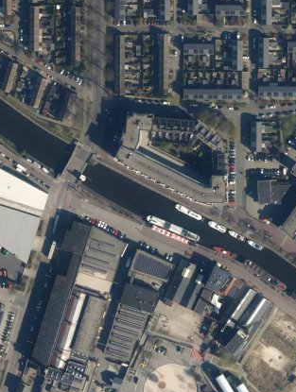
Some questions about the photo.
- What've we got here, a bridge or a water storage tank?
bridge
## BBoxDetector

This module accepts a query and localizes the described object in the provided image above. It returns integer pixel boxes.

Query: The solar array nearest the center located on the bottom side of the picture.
[134,257,170,277]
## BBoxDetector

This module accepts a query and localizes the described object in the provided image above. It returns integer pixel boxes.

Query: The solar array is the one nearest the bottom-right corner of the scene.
[208,268,226,289]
